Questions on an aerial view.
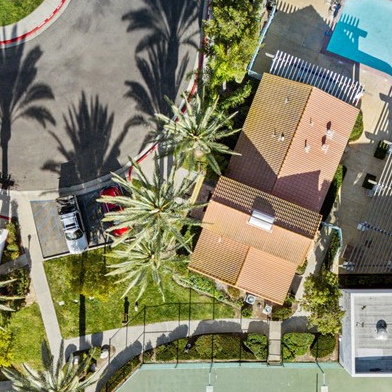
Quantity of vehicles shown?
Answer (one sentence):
In total, 2 vehicles can be seen.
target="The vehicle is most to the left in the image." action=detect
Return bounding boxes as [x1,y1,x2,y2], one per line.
[50,190,92,257]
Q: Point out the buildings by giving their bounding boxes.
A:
[188,73,359,301]
[339,288,392,376]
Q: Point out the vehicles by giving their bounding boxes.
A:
[99,184,136,240]
[50,190,92,257]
